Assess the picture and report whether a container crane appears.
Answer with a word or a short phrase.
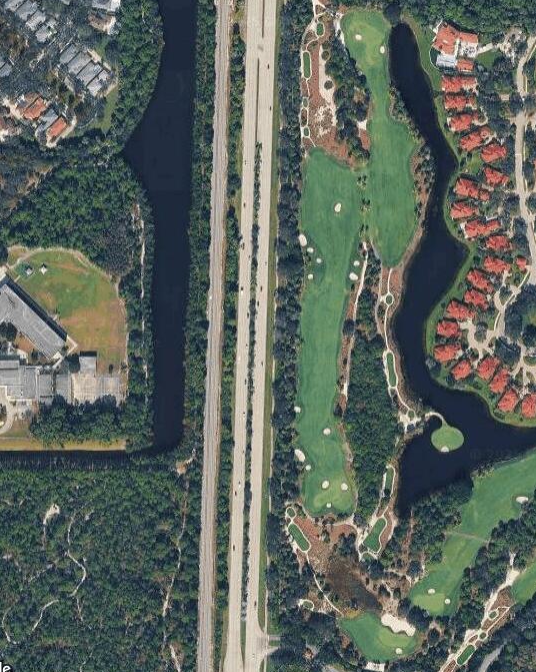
No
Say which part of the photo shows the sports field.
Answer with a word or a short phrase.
left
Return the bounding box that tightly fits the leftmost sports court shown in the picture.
[72,377,97,399]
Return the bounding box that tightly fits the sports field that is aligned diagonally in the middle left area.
[7,247,128,378]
